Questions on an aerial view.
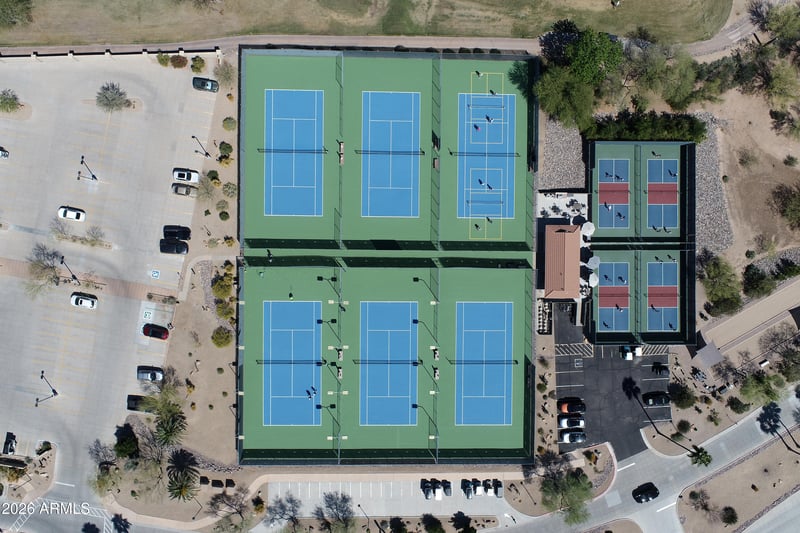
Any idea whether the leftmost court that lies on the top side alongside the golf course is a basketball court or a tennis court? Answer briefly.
tennis court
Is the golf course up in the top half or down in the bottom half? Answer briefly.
top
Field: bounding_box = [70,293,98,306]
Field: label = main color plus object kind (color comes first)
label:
white vehicle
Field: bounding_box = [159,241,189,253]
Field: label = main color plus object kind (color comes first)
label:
black vehicle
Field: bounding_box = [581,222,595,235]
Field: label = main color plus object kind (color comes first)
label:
white umbrella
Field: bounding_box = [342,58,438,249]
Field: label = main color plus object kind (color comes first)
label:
green tennis court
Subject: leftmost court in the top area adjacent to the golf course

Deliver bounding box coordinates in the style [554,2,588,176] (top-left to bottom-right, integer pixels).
[245,55,343,249]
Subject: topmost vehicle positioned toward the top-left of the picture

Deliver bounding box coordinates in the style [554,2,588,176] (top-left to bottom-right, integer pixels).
[191,77,219,92]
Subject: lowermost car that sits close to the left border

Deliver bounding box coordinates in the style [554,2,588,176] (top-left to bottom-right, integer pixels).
[4,431,20,456]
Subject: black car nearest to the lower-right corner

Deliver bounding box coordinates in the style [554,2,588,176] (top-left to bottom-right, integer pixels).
[633,483,658,501]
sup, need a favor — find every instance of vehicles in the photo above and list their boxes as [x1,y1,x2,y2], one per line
[4,431,20,456]
[643,392,668,405]
[70,293,98,306]
[142,324,170,338]
[495,483,503,499]
[135,368,165,381]
[622,349,632,363]
[59,207,86,220]
[474,481,483,497]
[162,227,190,239]
[444,482,452,498]
[633,483,658,501]
[559,401,584,413]
[159,241,189,253]
[561,431,586,444]
[465,484,472,499]
[424,484,431,499]
[559,417,584,429]
[127,397,145,410]
[630,345,641,358]
[485,483,494,499]
[171,183,198,195]
[434,485,442,501]
[651,366,666,374]
[191,77,219,92]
